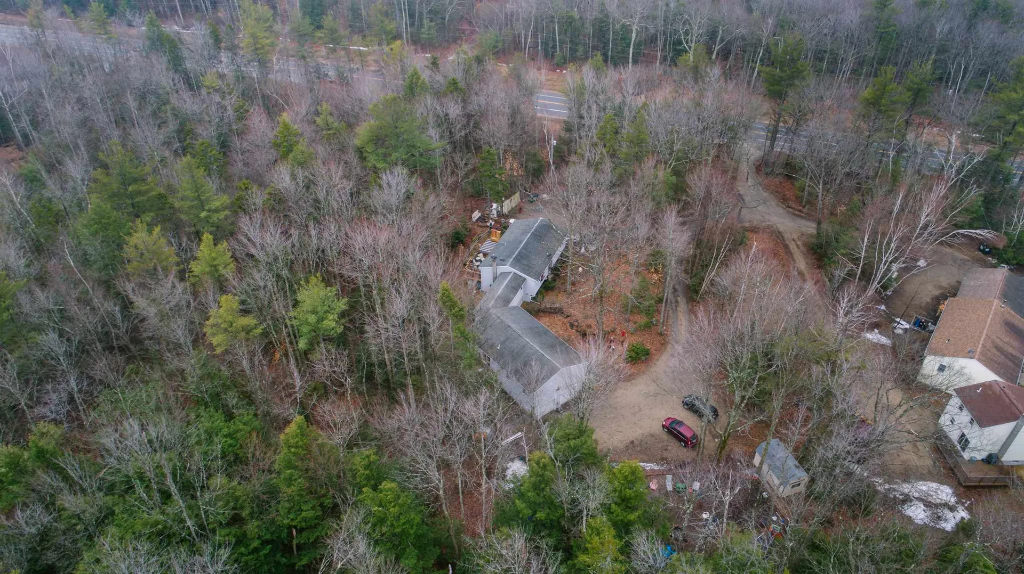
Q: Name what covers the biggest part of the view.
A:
trees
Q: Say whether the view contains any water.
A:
No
